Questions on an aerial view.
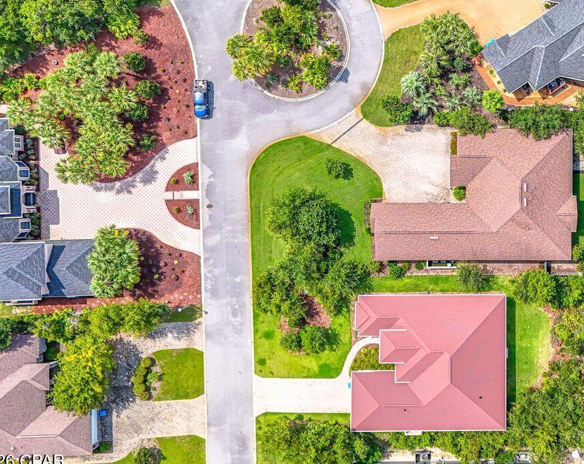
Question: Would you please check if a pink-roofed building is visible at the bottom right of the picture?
Yes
